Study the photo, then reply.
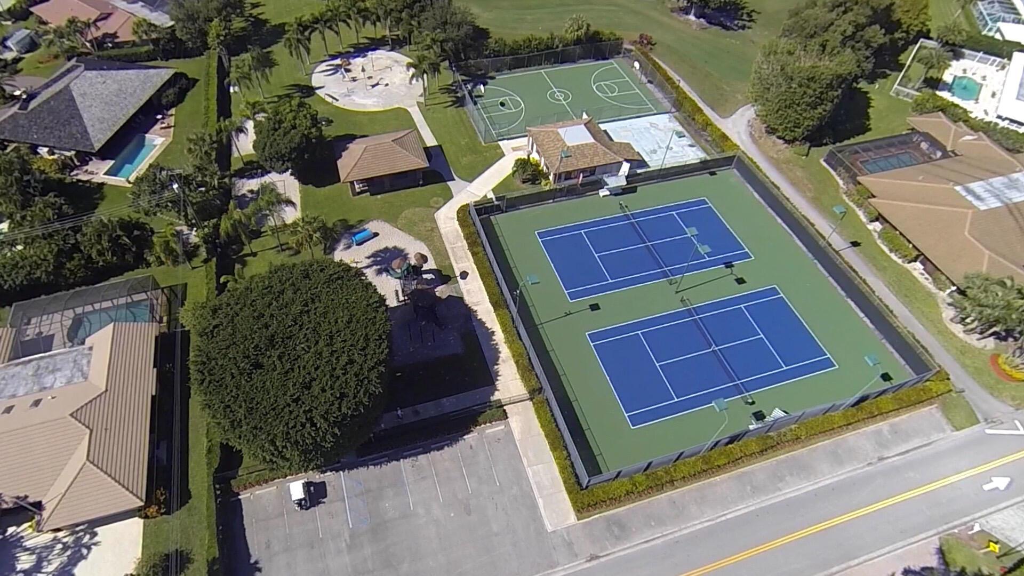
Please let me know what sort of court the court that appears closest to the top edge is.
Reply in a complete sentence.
It looks like the court that appears closest to the top edge is a basketball court.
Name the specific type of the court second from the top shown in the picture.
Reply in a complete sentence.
It looks like the court second from the top is a tennis court.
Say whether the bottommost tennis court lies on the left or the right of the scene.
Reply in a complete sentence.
The bottommost tennis court appears in the right half of the scene.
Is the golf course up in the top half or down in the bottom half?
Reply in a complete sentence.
The golf course is in the top half of the image.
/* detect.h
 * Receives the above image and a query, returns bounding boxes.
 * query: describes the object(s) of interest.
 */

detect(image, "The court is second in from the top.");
[480,171,811,329]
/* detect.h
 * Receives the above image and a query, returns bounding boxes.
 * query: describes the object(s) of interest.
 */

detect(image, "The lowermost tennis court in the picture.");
[526,261,909,478]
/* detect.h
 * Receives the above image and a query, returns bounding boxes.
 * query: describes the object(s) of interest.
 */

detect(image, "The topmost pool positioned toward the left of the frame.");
[98,132,168,182]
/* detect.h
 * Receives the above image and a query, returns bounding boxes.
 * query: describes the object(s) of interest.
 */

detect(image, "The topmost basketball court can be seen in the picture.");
[464,57,675,143]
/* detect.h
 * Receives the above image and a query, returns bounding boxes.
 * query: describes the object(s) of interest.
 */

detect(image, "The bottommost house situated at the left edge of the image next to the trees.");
[0,322,161,532]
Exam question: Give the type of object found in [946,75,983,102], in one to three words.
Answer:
swimming pool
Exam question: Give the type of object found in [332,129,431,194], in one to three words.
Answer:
building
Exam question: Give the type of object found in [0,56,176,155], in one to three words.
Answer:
house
